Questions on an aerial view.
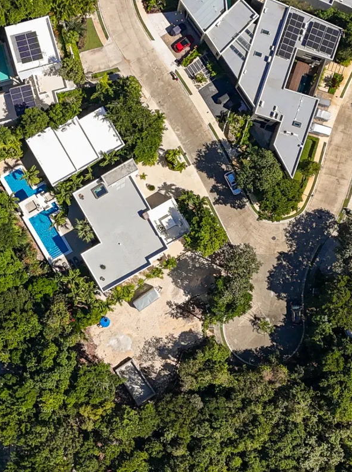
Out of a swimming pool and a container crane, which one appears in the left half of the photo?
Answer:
swimming pool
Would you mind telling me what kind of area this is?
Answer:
residential area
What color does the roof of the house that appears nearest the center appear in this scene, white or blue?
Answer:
white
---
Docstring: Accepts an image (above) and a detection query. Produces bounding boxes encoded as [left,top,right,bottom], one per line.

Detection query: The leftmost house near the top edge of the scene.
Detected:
[0,16,77,124]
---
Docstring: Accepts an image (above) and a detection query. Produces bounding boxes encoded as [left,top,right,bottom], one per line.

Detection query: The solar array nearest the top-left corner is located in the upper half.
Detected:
[16,31,43,63]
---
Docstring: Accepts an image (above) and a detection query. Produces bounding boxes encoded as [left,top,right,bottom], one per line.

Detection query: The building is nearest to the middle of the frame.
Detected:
[73,158,188,291]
